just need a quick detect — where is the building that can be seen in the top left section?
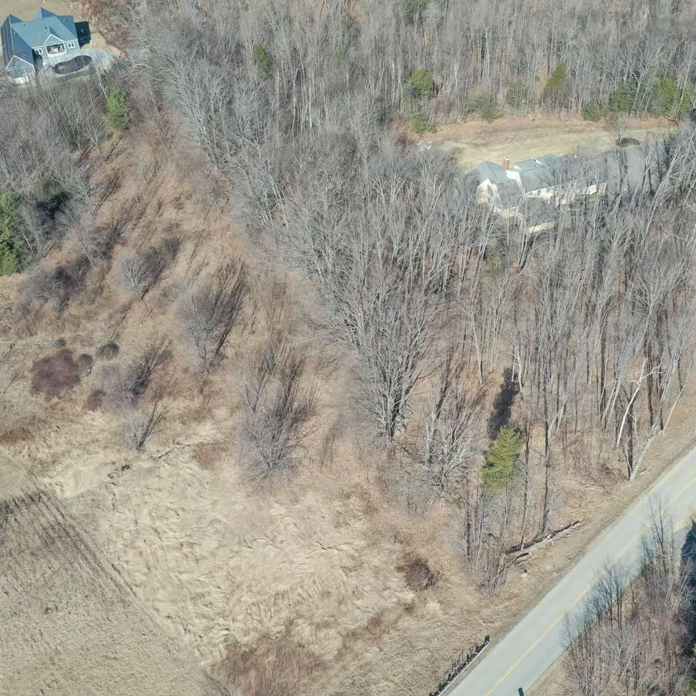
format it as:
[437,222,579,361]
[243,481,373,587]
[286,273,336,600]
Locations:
[0,1,82,83]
